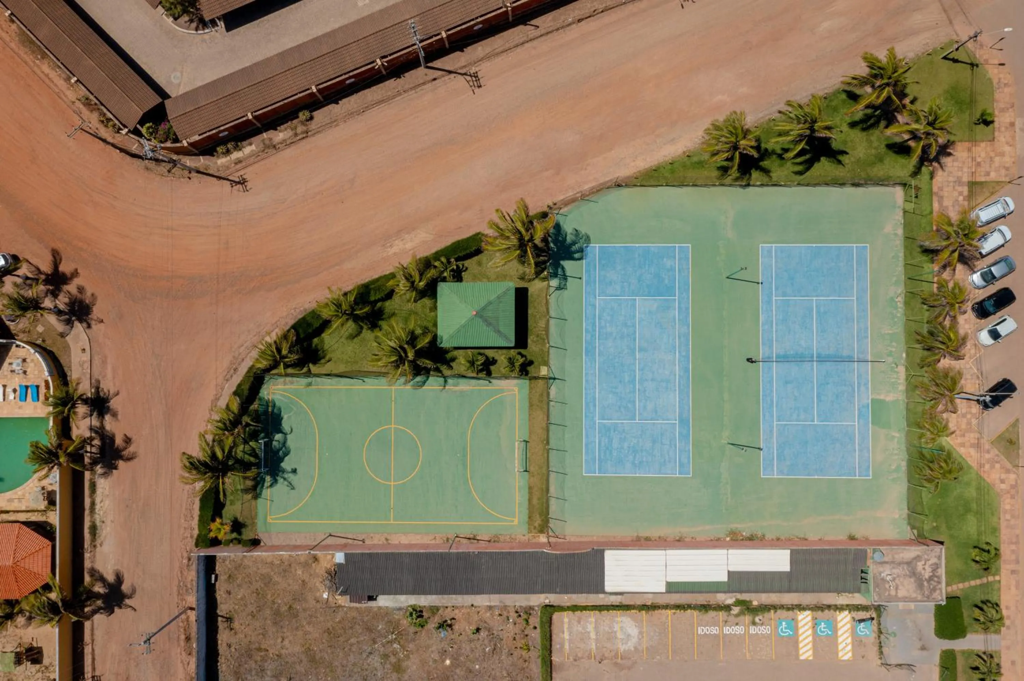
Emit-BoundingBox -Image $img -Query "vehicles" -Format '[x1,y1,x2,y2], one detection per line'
[970,226,1011,258]
[0,253,19,274]
[975,314,1019,346]
[967,255,1015,288]
[975,375,1020,412]
[970,285,1019,319]
[967,197,1012,227]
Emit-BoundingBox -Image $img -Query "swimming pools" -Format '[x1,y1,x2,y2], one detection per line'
[0,416,50,495]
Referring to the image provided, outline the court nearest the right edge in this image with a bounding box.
[760,244,872,479]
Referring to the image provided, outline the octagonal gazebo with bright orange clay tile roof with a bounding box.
[0,521,57,600]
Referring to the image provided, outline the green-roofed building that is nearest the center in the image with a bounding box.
[437,282,515,347]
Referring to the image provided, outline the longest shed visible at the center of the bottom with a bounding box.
[335,549,866,603]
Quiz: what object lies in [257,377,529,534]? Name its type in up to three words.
sports court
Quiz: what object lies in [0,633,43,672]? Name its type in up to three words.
playground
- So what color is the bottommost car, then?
black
